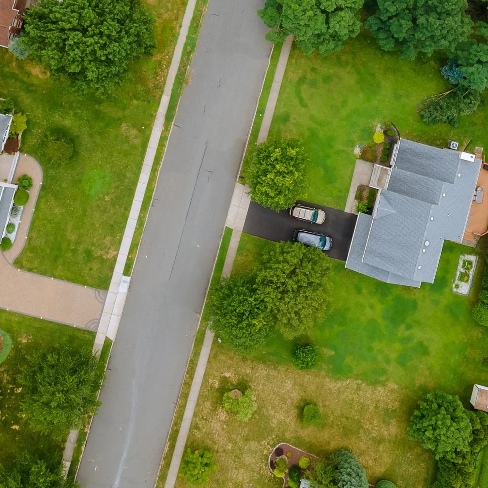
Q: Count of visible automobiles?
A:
2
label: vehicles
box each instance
[288,204,326,226]
[292,228,333,252]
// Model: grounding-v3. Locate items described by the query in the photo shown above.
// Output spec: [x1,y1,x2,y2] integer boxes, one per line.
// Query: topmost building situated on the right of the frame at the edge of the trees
[345,138,482,288]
